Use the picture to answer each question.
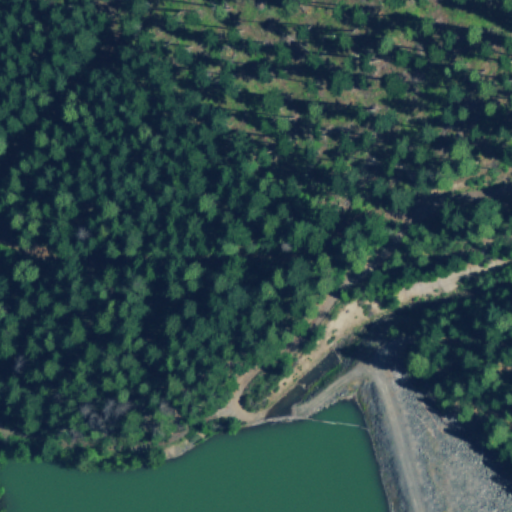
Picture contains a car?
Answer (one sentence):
No, the scene contains no car.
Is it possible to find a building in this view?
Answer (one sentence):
No, there's no building here.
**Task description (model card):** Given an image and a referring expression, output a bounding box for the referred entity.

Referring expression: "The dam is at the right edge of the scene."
[360,368,512,512]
